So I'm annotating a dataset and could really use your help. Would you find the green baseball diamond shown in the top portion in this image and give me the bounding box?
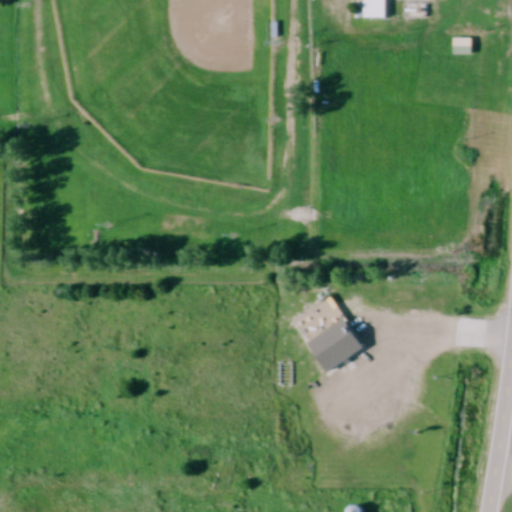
[52,0,284,190]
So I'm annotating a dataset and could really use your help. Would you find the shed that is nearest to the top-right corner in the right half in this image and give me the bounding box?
[453,36,473,54]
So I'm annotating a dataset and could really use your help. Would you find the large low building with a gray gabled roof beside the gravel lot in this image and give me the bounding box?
[308,320,363,370]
